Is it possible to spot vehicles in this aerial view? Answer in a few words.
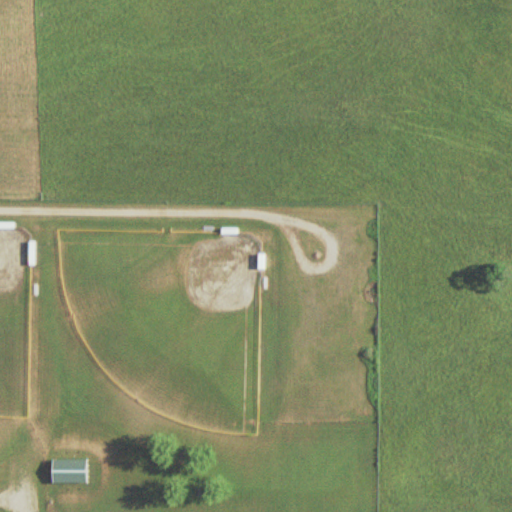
No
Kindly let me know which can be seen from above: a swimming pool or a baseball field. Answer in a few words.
baseball field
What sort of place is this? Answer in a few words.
farmland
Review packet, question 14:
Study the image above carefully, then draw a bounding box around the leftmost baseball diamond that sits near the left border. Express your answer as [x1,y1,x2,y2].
[0,228,32,417]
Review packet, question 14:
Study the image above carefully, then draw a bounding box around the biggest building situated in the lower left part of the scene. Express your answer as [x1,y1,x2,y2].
[52,460,90,483]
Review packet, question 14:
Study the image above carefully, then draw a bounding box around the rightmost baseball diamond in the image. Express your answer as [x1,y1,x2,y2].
[58,230,262,434]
